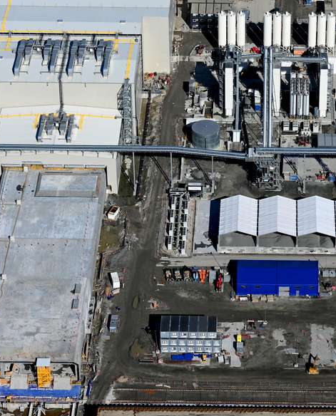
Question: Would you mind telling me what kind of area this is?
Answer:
industrial area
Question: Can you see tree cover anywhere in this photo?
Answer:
No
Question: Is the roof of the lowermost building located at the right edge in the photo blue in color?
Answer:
Yes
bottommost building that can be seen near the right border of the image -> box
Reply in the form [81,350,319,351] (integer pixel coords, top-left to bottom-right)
[237,261,320,297]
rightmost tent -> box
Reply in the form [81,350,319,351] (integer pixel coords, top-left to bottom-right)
[298,195,335,245]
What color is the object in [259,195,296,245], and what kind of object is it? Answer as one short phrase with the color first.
white tent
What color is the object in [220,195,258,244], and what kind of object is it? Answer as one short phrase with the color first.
white tent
